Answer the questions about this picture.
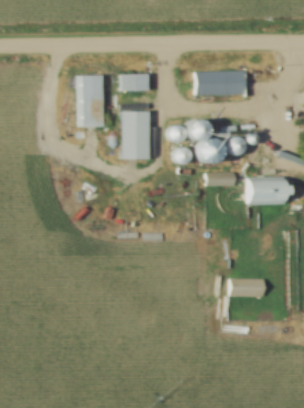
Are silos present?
Yes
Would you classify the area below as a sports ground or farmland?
farmland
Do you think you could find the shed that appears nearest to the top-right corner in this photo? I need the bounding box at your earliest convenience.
[193,70,250,96]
